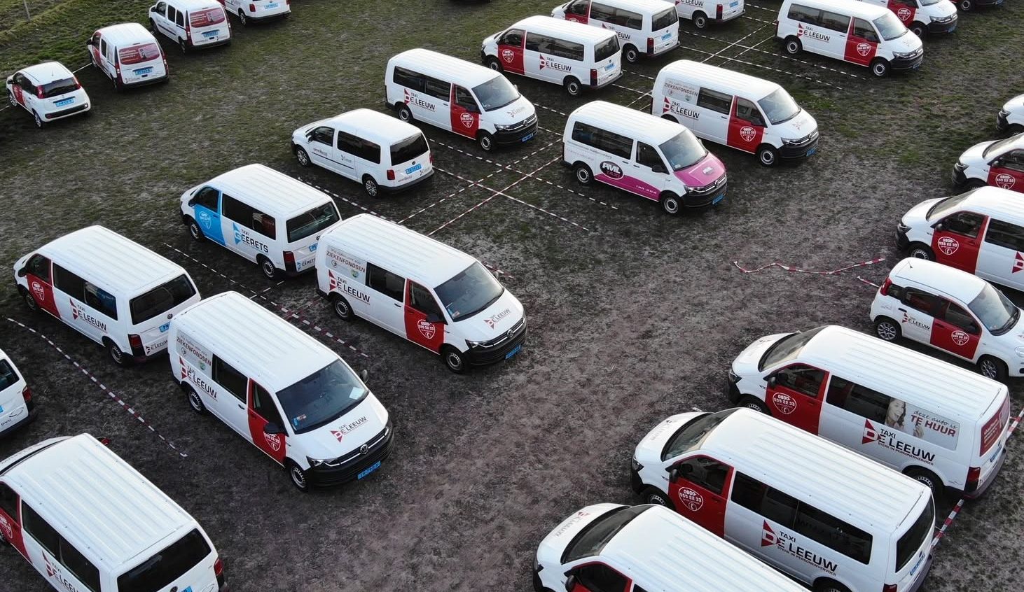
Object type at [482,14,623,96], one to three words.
van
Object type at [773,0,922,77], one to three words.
van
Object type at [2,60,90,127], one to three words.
car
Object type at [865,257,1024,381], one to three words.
car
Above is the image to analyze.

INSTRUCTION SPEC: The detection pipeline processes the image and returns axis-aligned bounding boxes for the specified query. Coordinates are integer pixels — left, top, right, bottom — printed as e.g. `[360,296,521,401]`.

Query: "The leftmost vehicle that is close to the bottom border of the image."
[0,425,229,592]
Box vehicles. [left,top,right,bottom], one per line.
[529,498,815,592]
[149,0,231,54]
[0,425,229,592]
[856,0,957,40]
[293,108,432,197]
[726,324,1012,508]
[553,0,685,64]
[168,293,390,495]
[648,60,817,167]
[2,60,90,127]
[865,257,1024,381]
[83,24,169,93]
[949,0,1001,13]
[12,225,202,366]
[0,351,36,442]
[664,0,744,29]
[214,0,290,27]
[383,51,536,154]
[627,403,936,592]
[773,0,922,77]
[995,84,1024,133]
[948,127,1024,194]
[314,215,525,377]
[183,164,343,282]
[892,186,1024,292]
[482,14,623,96]
[557,101,725,218]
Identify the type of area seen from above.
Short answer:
parking lot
